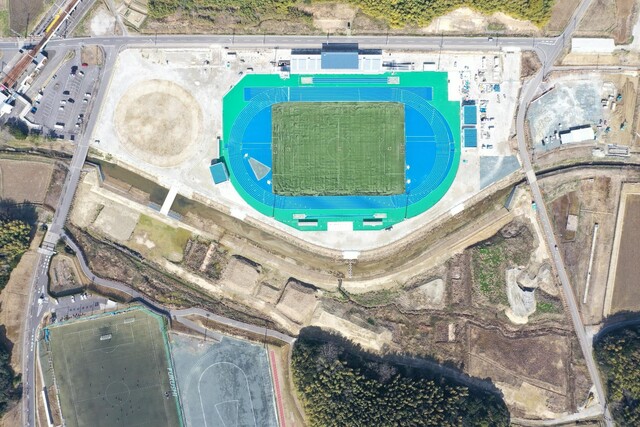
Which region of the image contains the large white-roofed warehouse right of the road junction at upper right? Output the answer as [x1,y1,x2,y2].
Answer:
[569,38,615,54]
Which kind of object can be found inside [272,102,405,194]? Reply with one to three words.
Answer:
soccer field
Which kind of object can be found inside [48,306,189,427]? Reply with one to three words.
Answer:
soccer field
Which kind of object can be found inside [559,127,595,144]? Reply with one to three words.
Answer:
building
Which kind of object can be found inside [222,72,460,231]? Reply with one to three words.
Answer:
running track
